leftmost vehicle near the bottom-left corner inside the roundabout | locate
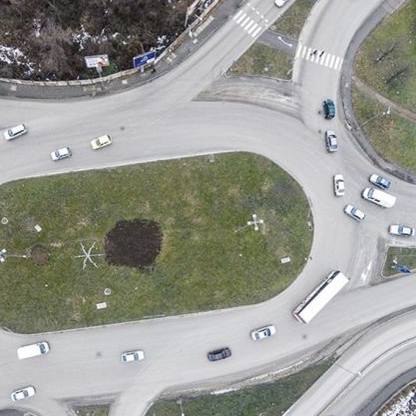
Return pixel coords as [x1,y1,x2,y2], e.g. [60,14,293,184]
[18,341,48,358]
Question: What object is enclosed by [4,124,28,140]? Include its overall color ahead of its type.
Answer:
white car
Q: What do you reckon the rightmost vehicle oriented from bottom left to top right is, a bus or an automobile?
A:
bus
